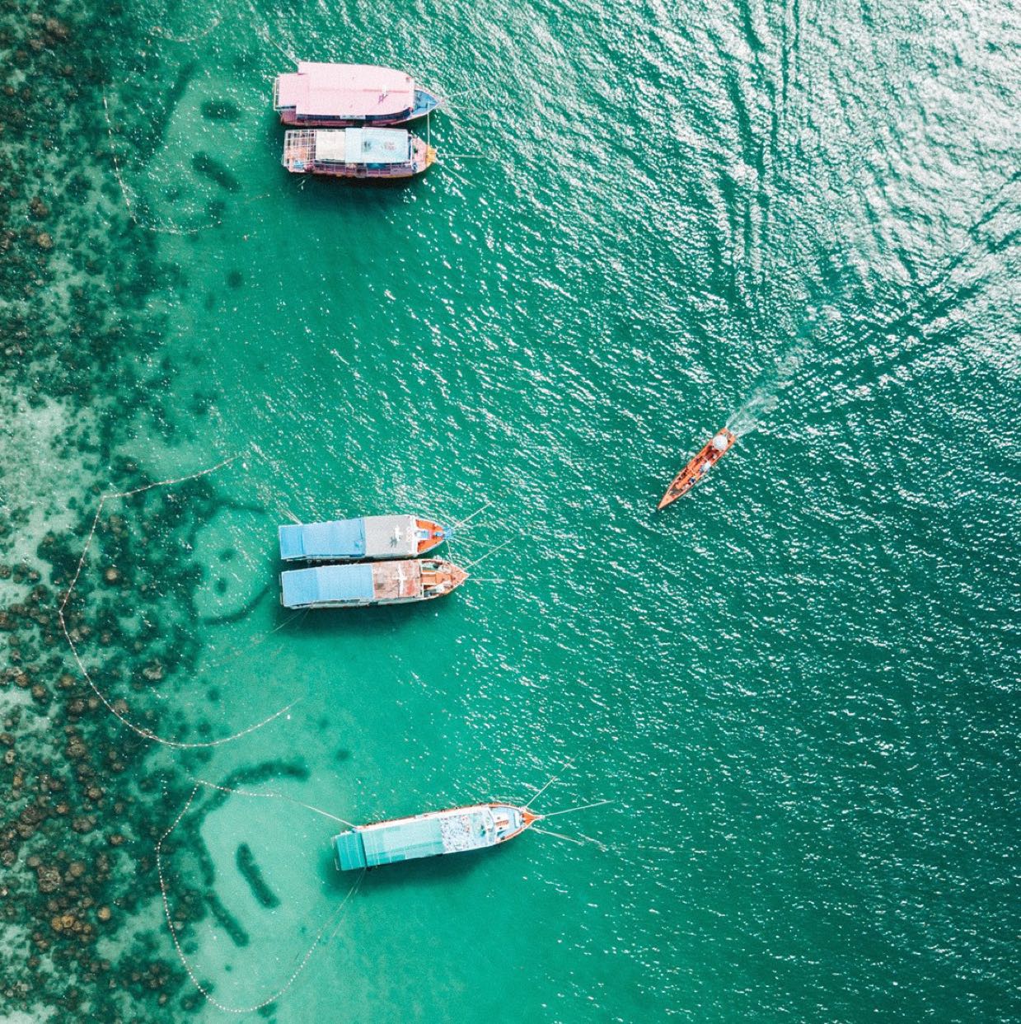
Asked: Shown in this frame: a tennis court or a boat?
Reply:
boat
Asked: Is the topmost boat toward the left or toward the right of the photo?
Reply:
left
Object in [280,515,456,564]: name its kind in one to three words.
boat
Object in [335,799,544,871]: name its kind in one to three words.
boat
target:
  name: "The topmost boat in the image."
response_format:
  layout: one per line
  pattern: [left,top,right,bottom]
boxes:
[273,63,441,128]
